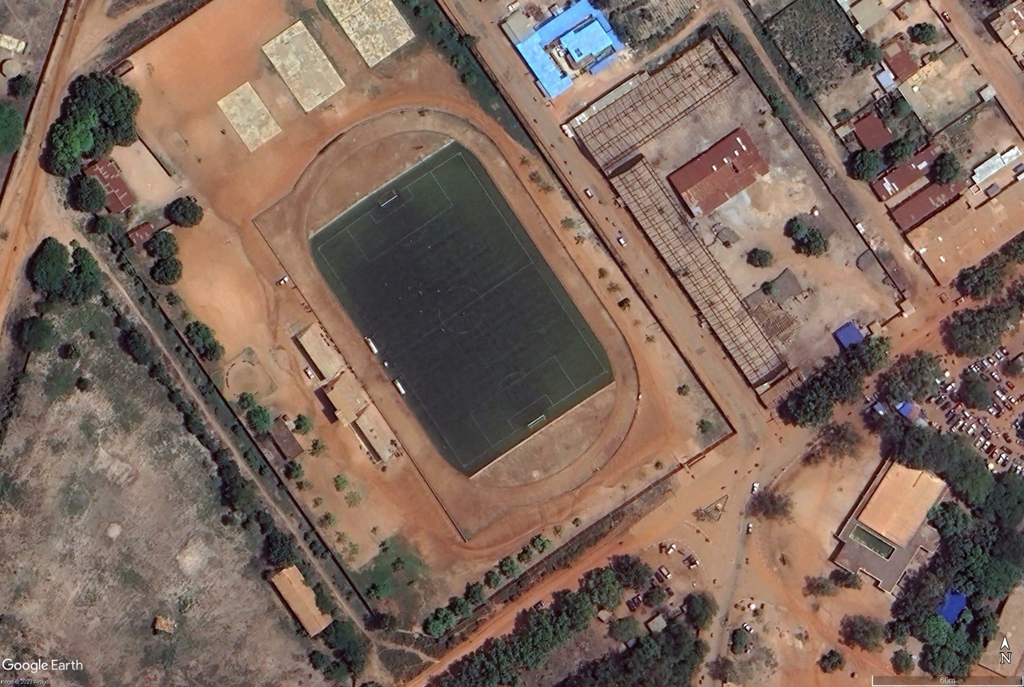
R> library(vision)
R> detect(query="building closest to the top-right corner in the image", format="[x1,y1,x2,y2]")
[989,2,1024,46]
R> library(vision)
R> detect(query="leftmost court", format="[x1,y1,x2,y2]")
[217,82,282,151]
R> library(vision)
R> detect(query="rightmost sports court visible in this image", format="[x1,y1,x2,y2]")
[324,0,415,67]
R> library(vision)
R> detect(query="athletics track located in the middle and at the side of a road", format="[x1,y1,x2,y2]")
[254,109,639,541]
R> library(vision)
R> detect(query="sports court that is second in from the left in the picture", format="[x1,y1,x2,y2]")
[261,20,345,111]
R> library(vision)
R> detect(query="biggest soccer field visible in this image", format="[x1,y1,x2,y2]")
[309,140,615,479]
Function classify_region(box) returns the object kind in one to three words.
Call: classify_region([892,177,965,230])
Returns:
house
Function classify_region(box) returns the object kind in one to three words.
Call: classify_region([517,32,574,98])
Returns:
building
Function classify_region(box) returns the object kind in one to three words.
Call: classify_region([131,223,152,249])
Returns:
house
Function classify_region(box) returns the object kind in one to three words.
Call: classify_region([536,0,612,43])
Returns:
building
